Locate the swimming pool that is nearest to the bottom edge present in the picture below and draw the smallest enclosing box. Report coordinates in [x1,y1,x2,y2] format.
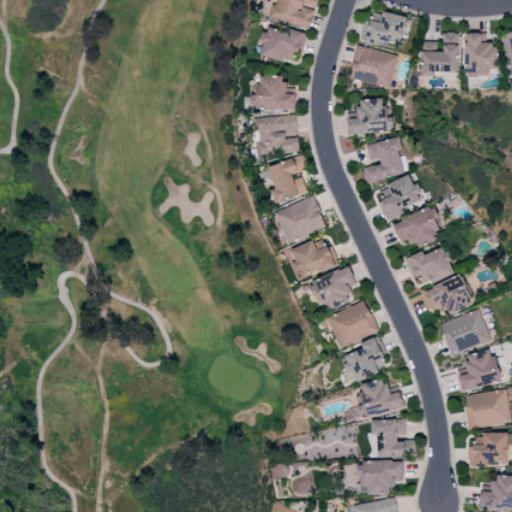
[323,400,352,418]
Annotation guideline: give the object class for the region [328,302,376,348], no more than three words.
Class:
house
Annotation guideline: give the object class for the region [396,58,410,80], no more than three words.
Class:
swimming pool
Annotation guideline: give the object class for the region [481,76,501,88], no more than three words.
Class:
swimming pool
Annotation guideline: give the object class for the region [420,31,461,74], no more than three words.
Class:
house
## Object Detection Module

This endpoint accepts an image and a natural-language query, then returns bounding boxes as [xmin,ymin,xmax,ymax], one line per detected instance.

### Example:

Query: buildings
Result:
[344,338,388,381]
[292,239,340,280]
[380,176,422,218]
[262,26,306,61]
[306,266,358,310]
[250,74,296,112]
[466,32,499,76]
[266,0,318,28]
[470,434,510,468]
[373,420,417,458]
[255,114,300,154]
[328,302,376,348]
[351,44,398,88]
[442,308,494,356]
[468,390,512,429]
[420,31,461,74]
[275,195,328,242]
[393,206,442,245]
[408,248,458,286]
[426,276,476,315]
[362,380,406,418]
[269,154,310,205]
[352,499,400,512]
[364,136,408,182]
[348,98,396,134]
[481,476,512,512]
[360,460,405,496]
[362,10,408,46]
